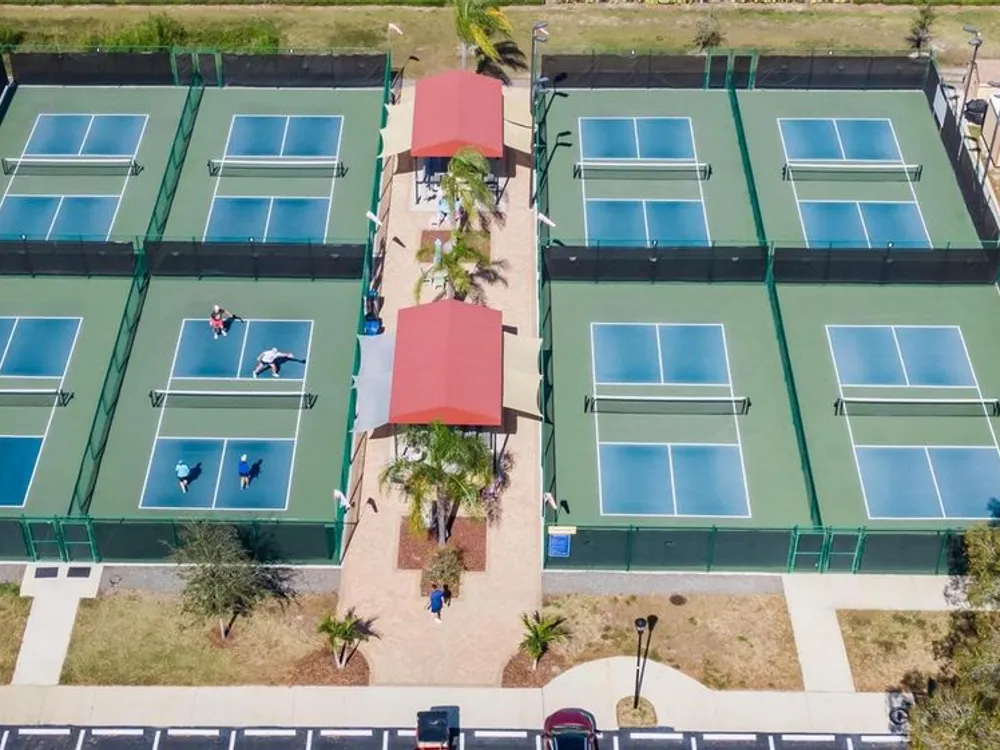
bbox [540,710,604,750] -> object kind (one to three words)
car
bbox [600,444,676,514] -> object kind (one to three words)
sports court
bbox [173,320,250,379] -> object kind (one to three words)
sports court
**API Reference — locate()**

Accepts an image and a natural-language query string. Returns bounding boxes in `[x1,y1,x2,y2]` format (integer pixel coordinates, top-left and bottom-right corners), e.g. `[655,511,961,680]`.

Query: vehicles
[416,711,452,750]
[540,710,604,750]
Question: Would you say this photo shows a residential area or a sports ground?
sports ground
